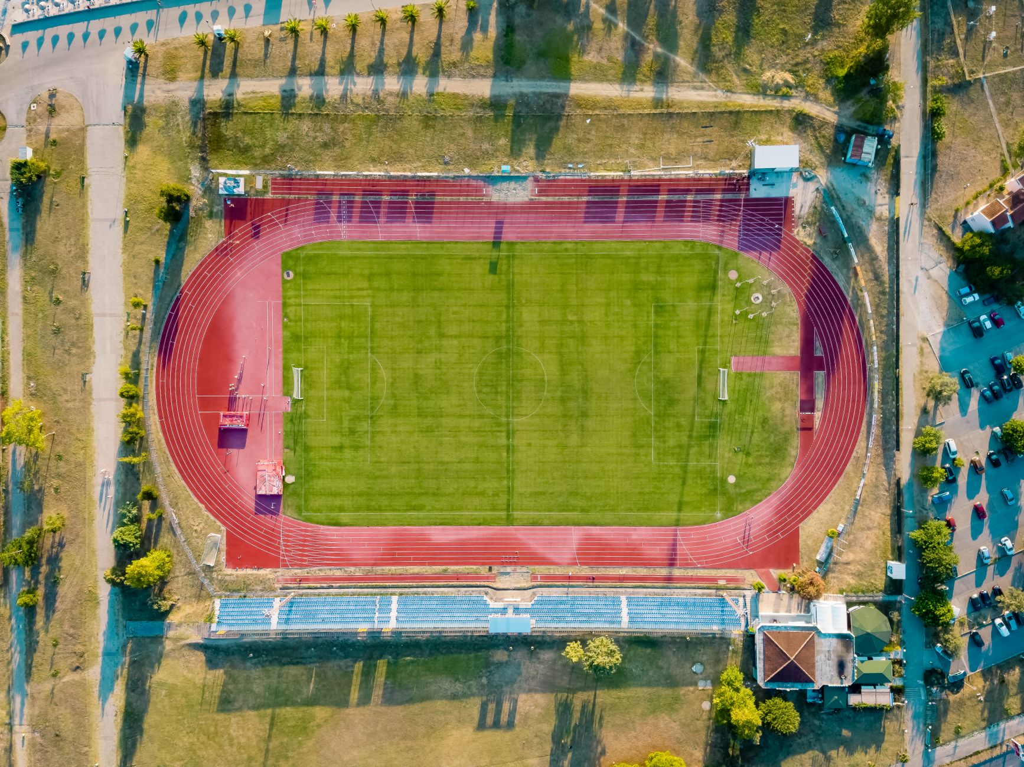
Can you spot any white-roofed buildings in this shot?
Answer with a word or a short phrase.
Yes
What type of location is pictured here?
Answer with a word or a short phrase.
sports ground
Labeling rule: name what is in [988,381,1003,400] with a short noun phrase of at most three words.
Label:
car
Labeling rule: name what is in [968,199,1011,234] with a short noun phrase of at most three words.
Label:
house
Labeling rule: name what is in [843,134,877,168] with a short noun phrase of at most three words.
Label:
shed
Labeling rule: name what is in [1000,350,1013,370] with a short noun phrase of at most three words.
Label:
vehicle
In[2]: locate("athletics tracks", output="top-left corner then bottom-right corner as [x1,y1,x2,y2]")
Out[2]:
[156,198,866,591]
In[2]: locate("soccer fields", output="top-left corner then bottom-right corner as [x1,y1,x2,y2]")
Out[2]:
[282,241,825,526]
